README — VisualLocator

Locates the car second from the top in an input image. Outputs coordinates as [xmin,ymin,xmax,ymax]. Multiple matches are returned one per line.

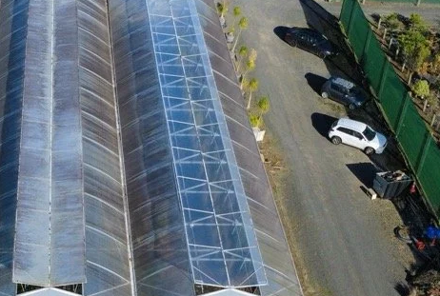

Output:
[316,73,375,111]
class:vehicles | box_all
[288,26,345,59]
[316,73,375,111]
[325,114,392,156]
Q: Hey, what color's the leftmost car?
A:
black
